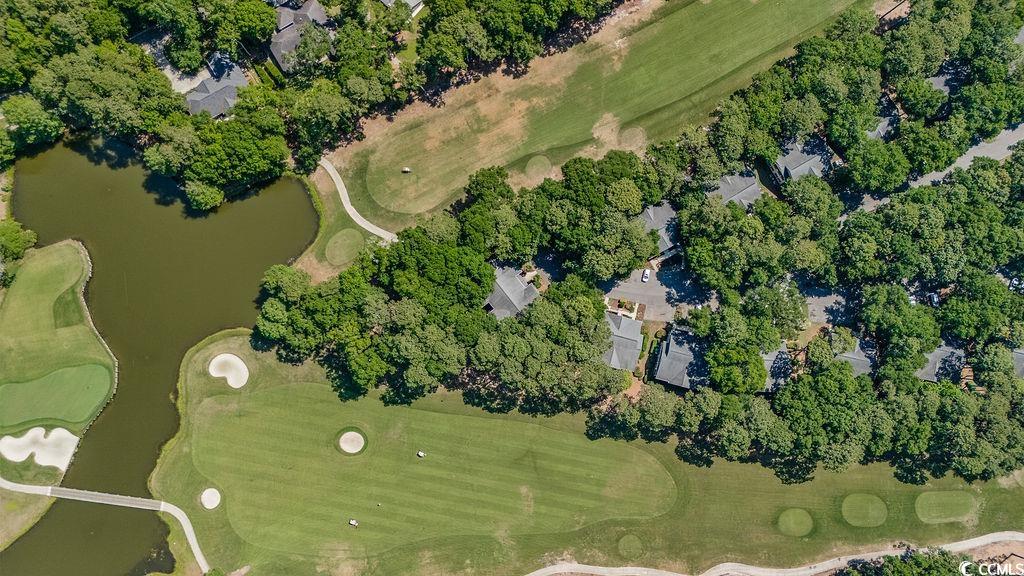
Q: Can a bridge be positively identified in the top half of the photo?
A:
No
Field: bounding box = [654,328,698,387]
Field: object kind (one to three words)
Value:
house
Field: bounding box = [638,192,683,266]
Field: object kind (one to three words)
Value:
house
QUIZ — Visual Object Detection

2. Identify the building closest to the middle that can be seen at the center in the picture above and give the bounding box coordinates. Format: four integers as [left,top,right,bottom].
[479,264,553,322]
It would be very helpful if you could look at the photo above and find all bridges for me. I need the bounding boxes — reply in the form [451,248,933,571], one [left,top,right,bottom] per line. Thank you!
[47,486,164,512]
